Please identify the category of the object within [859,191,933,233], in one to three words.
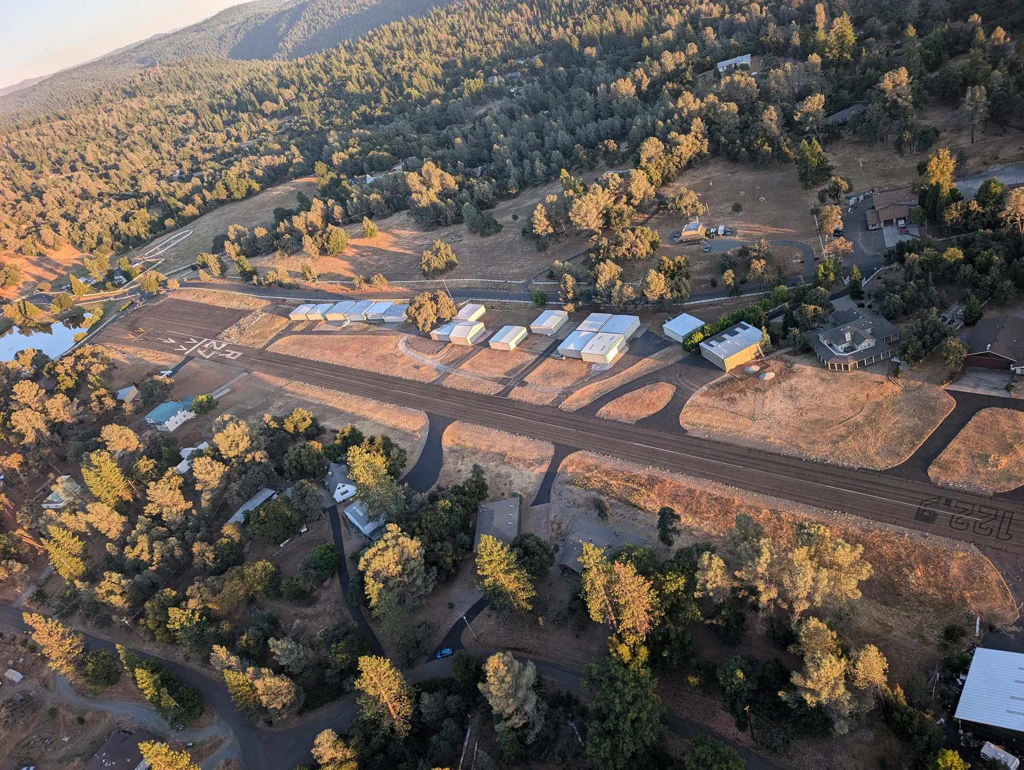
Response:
building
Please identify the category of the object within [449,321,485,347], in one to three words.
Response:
hangar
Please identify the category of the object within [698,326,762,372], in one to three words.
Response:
hangar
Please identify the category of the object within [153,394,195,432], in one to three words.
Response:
house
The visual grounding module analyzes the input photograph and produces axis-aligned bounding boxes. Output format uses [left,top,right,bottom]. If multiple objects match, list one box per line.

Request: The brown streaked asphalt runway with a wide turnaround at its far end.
[95,298,1024,564]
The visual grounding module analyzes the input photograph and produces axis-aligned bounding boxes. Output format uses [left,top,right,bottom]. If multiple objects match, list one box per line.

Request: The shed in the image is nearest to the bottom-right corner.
[952,644,1024,754]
